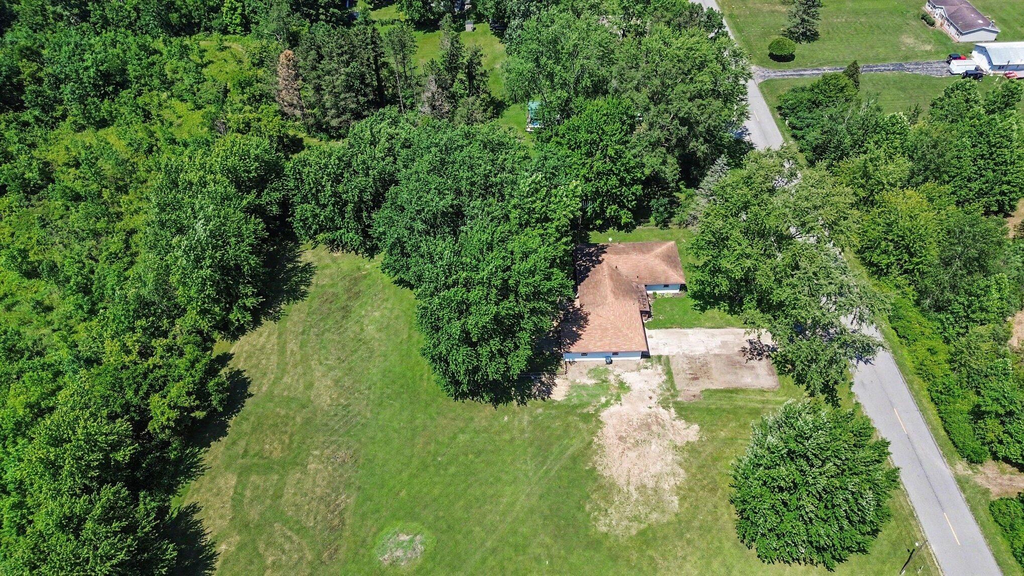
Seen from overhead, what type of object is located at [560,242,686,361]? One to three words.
house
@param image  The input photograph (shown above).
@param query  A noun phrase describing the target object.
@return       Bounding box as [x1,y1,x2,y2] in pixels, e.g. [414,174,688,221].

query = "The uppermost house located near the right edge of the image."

[912,0,1009,44]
